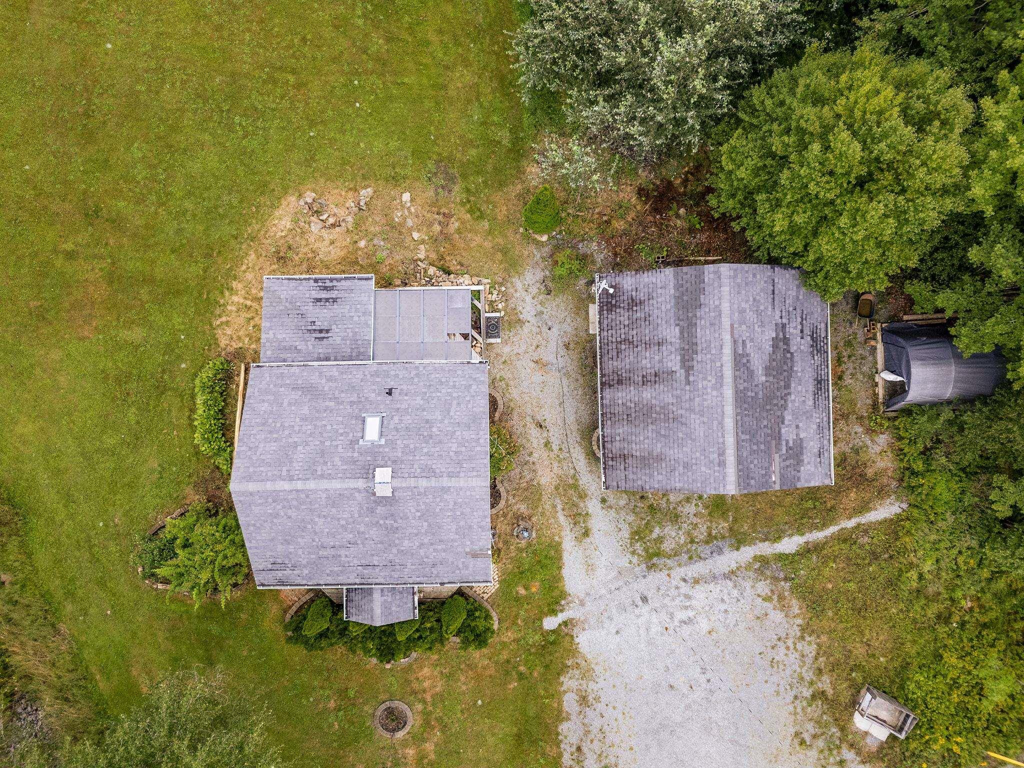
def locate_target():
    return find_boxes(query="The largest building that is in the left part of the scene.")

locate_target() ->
[230,271,498,626]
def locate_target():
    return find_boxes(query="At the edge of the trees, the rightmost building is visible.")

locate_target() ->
[594,263,837,494]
